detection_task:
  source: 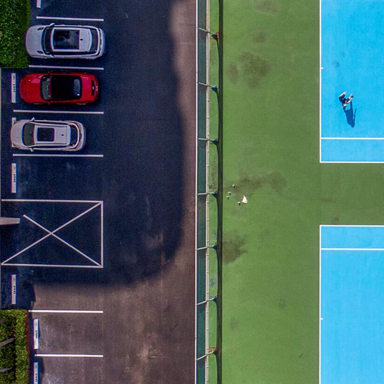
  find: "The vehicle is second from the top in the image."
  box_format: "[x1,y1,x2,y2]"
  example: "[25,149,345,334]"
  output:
[20,68,98,108]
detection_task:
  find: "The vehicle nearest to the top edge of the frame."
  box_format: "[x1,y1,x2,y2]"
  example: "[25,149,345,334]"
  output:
[26,20,106,61]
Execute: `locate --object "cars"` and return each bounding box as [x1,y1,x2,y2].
[20,68,98,108]
[26,20,106,61]
[11,116,86,155]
